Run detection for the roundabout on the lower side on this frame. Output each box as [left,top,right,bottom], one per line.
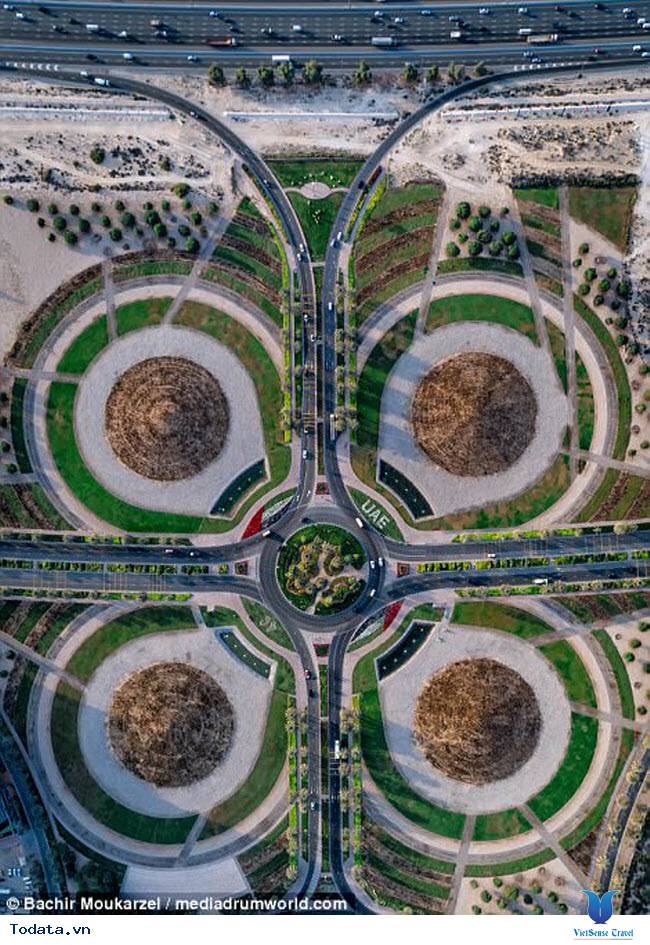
[259,506,385,631]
